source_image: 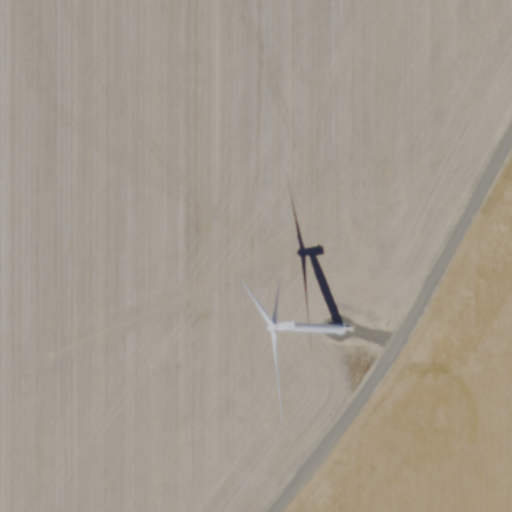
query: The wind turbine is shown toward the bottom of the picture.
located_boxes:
[244,280,349,417]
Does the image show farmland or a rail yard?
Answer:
farmland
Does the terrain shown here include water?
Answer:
No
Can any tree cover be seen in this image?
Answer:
No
